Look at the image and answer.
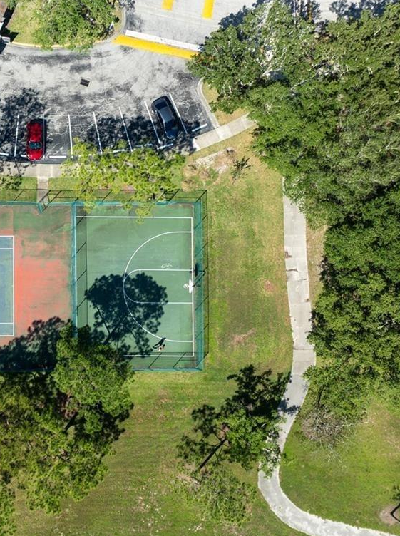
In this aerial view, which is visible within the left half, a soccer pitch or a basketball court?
basketball court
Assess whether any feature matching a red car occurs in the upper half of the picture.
Yes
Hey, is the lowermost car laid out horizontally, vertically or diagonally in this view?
vertically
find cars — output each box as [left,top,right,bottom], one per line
[152,92,181,139]
[26,118,47,160]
